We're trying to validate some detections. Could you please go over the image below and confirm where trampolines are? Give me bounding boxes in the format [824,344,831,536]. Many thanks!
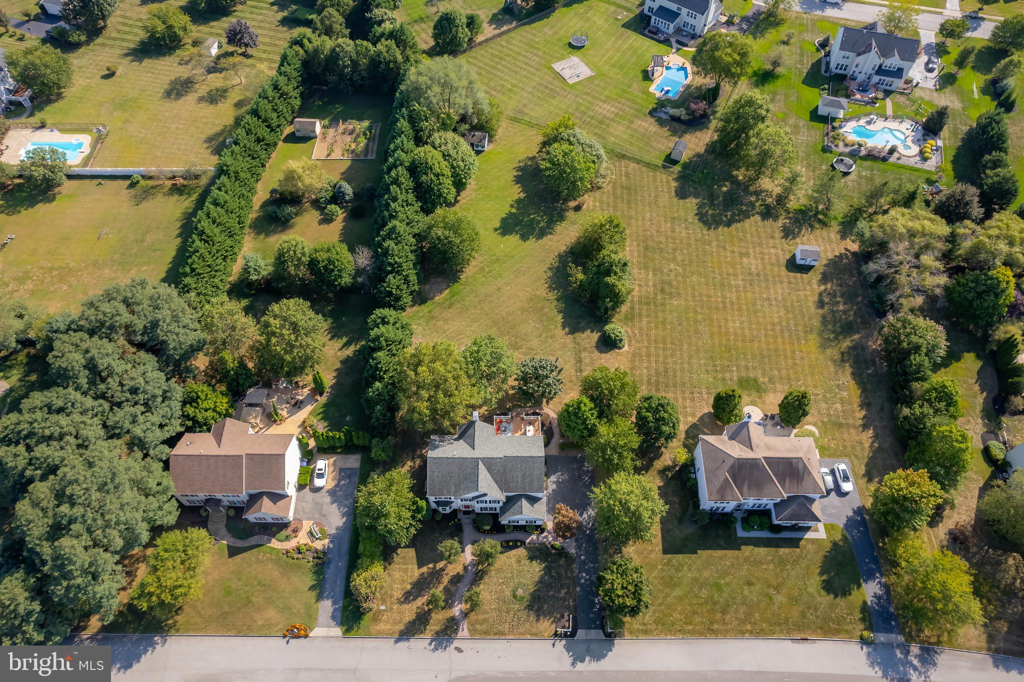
[571,31,587,49]
[833,158,855,176]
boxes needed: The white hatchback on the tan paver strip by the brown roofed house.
[313,459,329,487]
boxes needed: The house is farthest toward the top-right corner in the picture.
[829,11,921,89]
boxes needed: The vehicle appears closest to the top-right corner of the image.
[925,55,938,71]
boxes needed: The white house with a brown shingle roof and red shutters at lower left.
[167,415,303,522]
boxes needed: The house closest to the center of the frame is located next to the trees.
[426,409,546,524]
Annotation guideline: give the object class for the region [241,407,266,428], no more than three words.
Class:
gazebo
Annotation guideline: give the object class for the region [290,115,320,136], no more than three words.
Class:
shed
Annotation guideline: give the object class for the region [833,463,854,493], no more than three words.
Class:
car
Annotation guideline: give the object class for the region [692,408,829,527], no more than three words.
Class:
house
